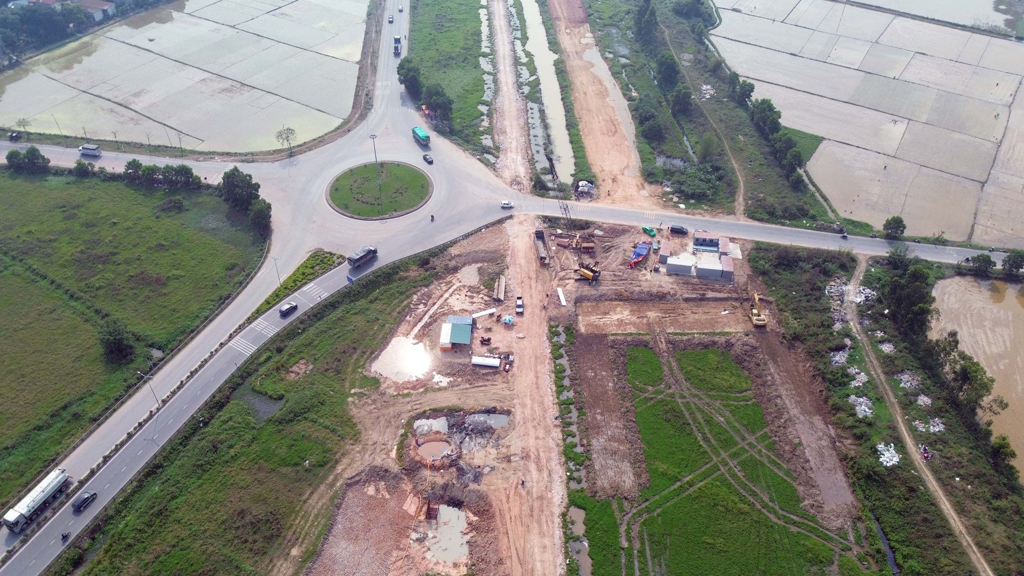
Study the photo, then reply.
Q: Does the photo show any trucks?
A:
Yes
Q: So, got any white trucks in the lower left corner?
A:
Yes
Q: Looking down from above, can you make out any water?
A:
Yes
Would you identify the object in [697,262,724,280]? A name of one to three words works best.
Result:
building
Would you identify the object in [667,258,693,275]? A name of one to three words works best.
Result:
building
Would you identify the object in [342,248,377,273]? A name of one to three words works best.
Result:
truck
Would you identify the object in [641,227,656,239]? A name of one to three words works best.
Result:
vehicle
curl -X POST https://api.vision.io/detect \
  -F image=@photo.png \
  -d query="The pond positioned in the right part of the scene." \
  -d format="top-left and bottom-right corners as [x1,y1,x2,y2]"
[931,277,1024,481]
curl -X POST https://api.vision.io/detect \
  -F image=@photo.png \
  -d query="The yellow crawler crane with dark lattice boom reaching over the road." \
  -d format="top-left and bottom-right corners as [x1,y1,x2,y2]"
[543,153,599,279]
